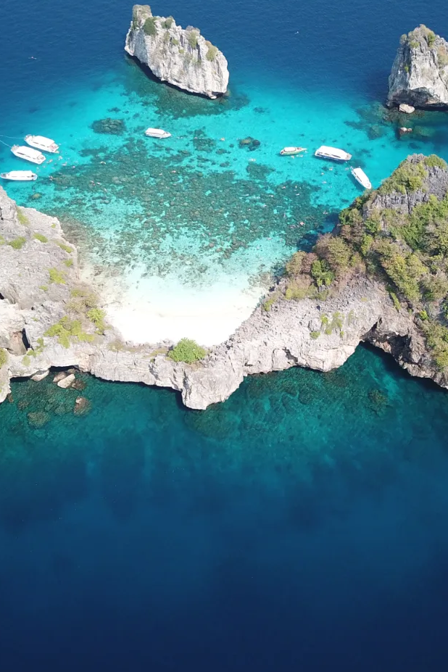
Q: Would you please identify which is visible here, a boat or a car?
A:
boat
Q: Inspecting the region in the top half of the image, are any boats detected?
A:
Yes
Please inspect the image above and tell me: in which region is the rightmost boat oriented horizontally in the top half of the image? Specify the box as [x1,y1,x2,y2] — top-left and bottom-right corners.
[312,146,351,161]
